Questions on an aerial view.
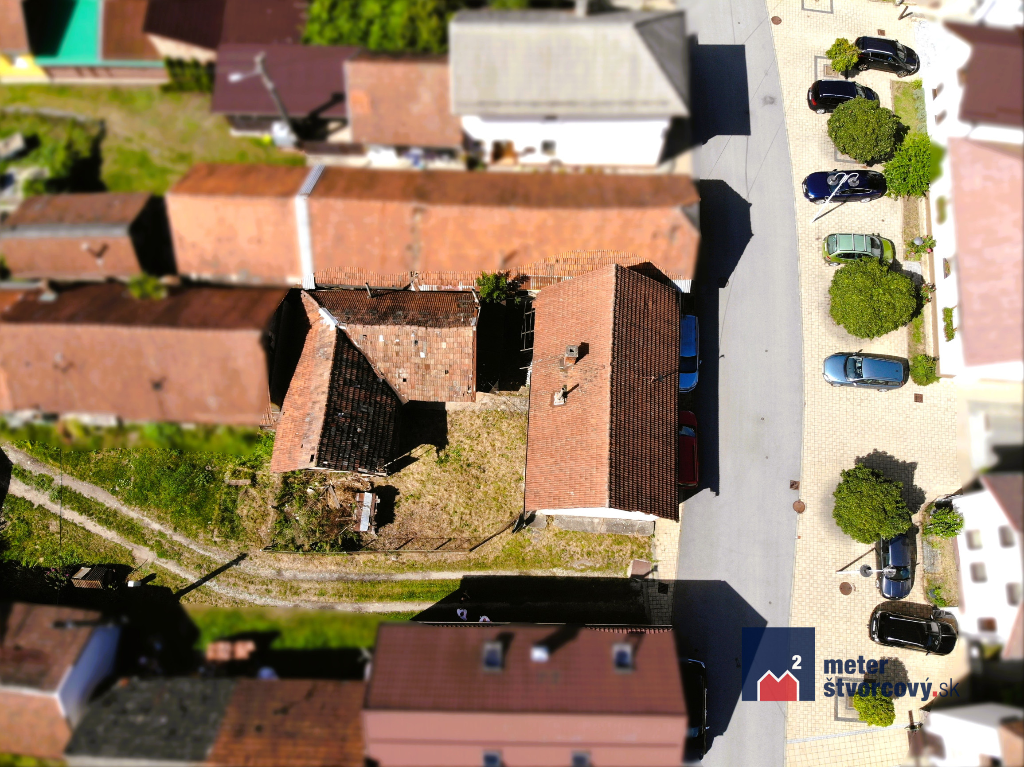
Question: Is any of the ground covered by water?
No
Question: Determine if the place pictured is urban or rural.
urban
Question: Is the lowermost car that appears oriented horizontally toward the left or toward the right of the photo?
right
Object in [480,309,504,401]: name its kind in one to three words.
shed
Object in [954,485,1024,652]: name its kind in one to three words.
house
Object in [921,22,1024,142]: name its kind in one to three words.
house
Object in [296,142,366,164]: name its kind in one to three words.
shed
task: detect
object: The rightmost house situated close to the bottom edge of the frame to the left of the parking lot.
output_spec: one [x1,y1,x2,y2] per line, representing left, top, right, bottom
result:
[356,621,694,767]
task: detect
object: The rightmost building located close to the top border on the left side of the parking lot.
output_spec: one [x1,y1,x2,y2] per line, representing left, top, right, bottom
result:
[451,9,690,172]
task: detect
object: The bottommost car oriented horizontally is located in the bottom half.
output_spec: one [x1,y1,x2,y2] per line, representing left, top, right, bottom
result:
[868,605,963,657]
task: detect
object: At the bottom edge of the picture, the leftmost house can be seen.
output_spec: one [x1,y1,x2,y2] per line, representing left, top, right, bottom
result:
[0,603,139,760]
